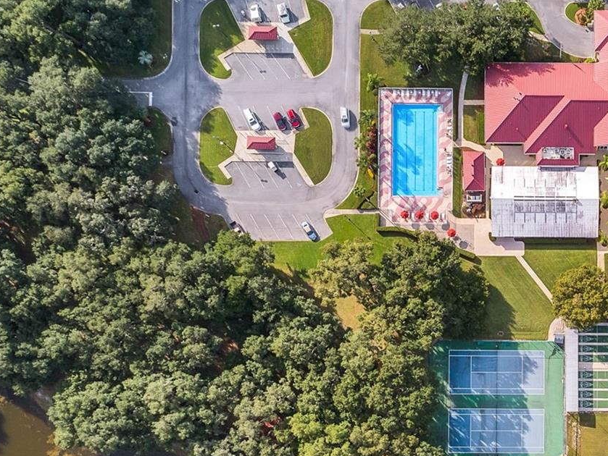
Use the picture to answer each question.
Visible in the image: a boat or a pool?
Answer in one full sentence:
Of the two, only a pool appears.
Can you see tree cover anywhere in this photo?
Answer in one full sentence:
Yes, tree cover can be seen from above here.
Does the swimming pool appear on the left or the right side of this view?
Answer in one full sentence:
The swimming pool is on the right side of the image.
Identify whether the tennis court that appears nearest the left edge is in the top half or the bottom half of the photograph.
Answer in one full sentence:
You can find the tennis court that appears nearest the left edge in the bottom half.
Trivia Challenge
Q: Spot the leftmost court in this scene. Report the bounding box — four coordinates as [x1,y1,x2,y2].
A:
[430,342,564,456]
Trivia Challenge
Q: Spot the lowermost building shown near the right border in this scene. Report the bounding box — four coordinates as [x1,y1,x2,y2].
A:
[489,166,600,238]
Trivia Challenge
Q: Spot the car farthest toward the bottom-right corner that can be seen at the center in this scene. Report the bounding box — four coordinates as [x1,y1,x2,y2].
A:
[302,221,318,239]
